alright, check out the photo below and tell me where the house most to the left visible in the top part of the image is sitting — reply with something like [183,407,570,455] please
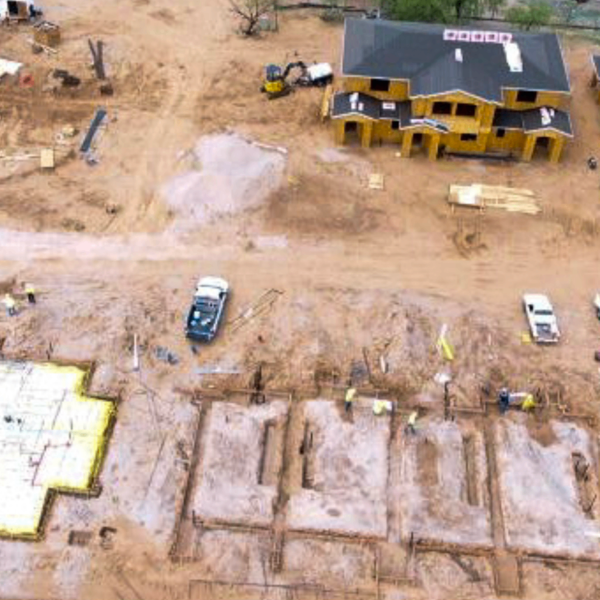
[330,18,574,163]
